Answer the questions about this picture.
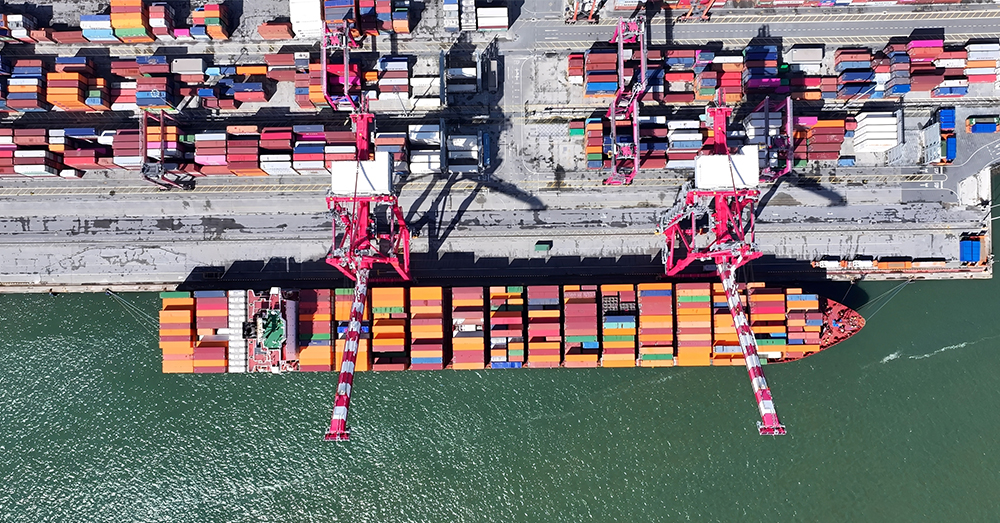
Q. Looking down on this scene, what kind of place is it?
port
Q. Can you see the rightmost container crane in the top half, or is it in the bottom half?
top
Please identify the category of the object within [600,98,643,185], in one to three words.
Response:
container crane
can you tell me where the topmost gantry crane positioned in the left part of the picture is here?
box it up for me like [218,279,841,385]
[317,20,362,113]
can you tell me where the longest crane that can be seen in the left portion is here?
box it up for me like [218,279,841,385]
[316,91,424,441]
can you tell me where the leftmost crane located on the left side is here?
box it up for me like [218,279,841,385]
[135,105,196,192]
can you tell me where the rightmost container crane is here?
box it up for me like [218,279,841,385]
[742,96,799,183]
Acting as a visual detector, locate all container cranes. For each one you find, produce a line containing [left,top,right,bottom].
[600,98,643,185]
[605,18,648,109]
[316,91,424,441]
[681,0,719,21]
[650,85,791,436]
[742,96,799,183]
[317,20,362,113]
[135,105,196,192]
